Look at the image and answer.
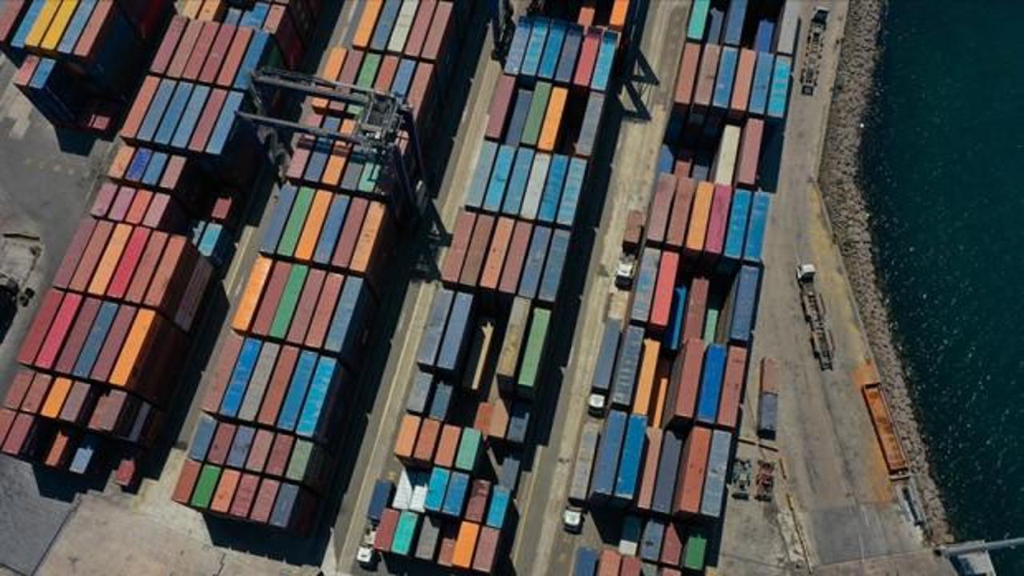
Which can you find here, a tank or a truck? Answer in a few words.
truck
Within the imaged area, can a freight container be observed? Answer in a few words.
Yes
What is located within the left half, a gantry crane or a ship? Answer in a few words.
gantry crane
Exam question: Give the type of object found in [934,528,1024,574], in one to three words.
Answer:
pier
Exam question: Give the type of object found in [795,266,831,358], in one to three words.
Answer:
truck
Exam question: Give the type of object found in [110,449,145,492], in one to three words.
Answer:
shipping container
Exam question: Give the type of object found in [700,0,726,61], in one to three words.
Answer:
shipping container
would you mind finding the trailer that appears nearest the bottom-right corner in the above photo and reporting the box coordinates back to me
[860,378,906,481]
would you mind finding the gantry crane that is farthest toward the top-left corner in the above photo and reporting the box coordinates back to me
[234,62,438,225]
